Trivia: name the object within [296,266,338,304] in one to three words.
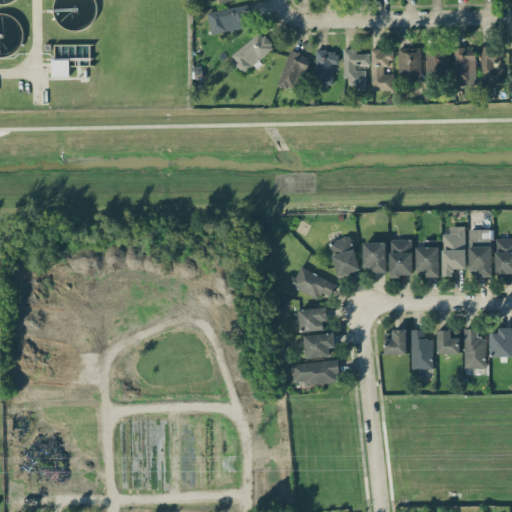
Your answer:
house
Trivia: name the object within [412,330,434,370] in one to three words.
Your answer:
house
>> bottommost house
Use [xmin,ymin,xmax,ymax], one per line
[292,362,339,386]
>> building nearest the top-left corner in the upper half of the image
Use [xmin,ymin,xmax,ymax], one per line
[50,59,69,77]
